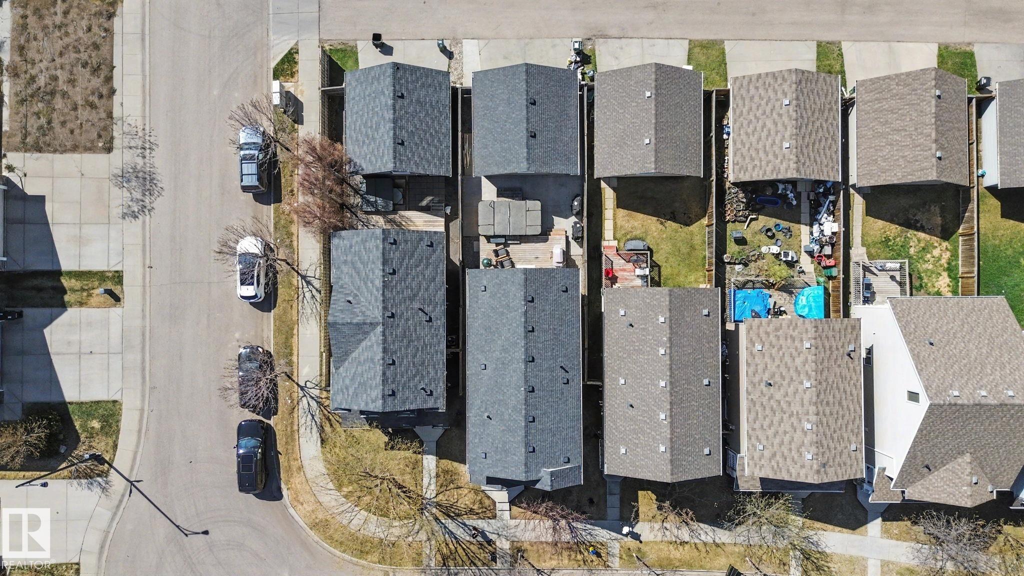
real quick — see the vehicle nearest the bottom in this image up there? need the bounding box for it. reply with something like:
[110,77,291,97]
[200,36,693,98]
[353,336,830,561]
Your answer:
[232,419,270,493]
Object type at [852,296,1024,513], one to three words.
house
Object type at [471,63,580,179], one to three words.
building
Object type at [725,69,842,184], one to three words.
building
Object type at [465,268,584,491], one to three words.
house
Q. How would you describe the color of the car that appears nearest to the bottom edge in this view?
black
